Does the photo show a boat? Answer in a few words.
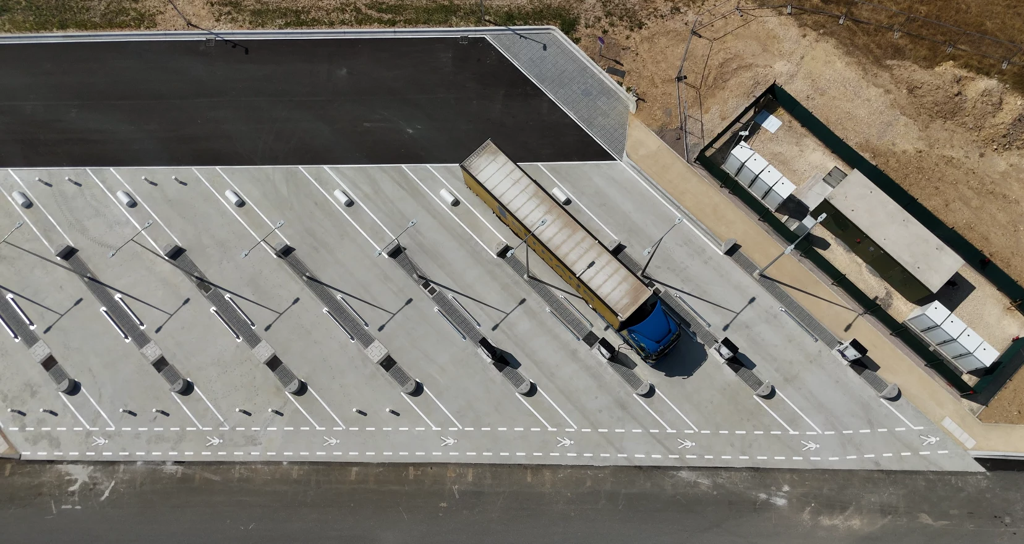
No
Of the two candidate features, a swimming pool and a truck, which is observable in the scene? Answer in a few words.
truck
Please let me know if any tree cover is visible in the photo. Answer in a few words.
No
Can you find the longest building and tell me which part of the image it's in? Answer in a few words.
right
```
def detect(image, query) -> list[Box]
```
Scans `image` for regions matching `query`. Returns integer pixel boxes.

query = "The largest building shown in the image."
[811,169,965,302]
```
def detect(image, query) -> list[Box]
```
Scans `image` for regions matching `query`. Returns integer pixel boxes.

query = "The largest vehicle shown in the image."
[460,137,682,363]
